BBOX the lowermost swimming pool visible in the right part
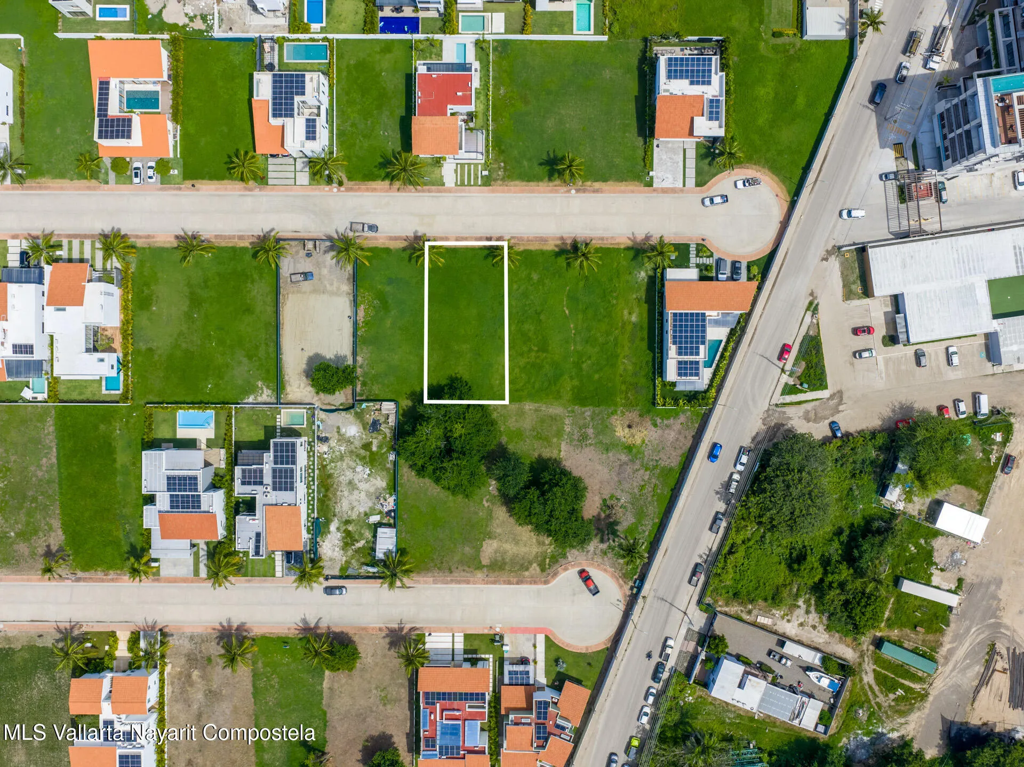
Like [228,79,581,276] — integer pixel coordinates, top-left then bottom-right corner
[702,338,724,369]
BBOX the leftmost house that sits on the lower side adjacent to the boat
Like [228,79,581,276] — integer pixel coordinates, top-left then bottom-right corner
[706,654,799,721]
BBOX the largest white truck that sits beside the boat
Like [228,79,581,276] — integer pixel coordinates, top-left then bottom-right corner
[778,638,822,665]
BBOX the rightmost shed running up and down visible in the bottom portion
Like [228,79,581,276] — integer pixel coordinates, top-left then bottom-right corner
[878,458,907,503]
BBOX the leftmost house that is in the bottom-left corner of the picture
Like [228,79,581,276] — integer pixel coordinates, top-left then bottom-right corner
[68,667,160,767]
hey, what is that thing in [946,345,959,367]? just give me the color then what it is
white vehicle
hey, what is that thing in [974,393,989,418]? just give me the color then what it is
white vehicle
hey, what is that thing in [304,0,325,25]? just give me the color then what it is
blue swimming pool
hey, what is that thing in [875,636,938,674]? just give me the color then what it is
green shipping container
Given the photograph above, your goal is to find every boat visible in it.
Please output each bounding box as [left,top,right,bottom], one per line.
[803,669,848,699]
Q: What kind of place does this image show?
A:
residential area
